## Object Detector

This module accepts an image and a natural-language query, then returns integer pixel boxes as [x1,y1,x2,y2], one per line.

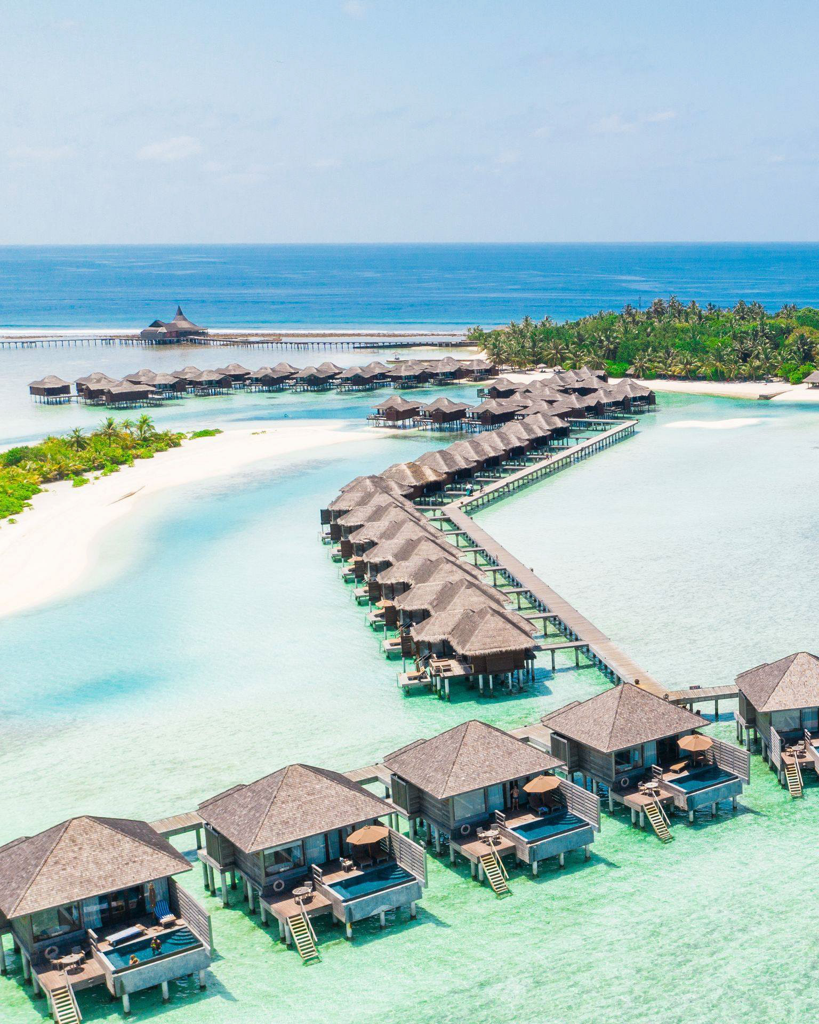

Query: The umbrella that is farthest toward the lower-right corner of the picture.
[674,732,713,752]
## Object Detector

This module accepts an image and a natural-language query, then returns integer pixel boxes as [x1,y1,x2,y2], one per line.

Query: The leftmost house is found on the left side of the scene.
[31,375,86,403]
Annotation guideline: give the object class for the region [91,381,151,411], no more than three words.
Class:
house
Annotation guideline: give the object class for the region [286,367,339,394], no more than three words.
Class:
house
